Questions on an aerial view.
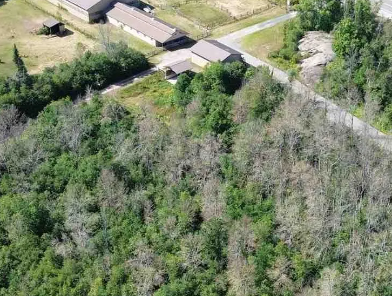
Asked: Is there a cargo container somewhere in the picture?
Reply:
No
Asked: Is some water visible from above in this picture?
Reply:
No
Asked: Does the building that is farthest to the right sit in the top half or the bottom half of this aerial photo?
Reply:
top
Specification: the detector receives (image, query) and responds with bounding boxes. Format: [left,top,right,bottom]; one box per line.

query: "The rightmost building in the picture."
[190,38,243,70]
